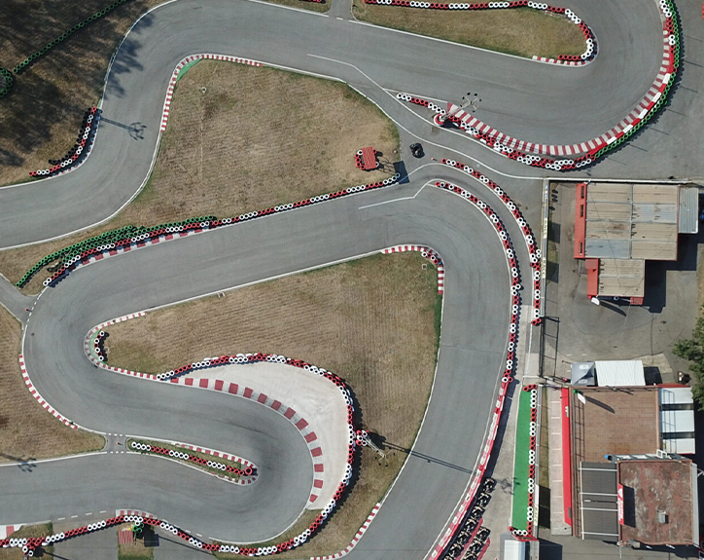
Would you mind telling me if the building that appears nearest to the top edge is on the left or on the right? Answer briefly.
right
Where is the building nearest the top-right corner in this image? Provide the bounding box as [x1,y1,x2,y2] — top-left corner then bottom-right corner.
[575,183,700,304]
